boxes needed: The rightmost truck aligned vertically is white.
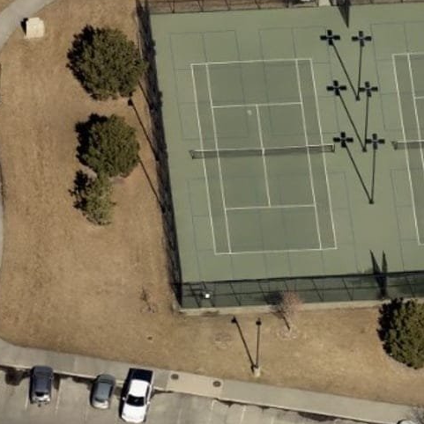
[122,368,154,424]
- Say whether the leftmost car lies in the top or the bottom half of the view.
bottom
